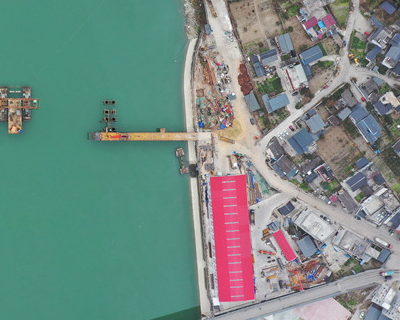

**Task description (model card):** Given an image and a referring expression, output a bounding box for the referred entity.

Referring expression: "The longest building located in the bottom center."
[205,174,255,302]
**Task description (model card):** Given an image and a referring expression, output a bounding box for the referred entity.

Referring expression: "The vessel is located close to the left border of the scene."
[0,86,40,133]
